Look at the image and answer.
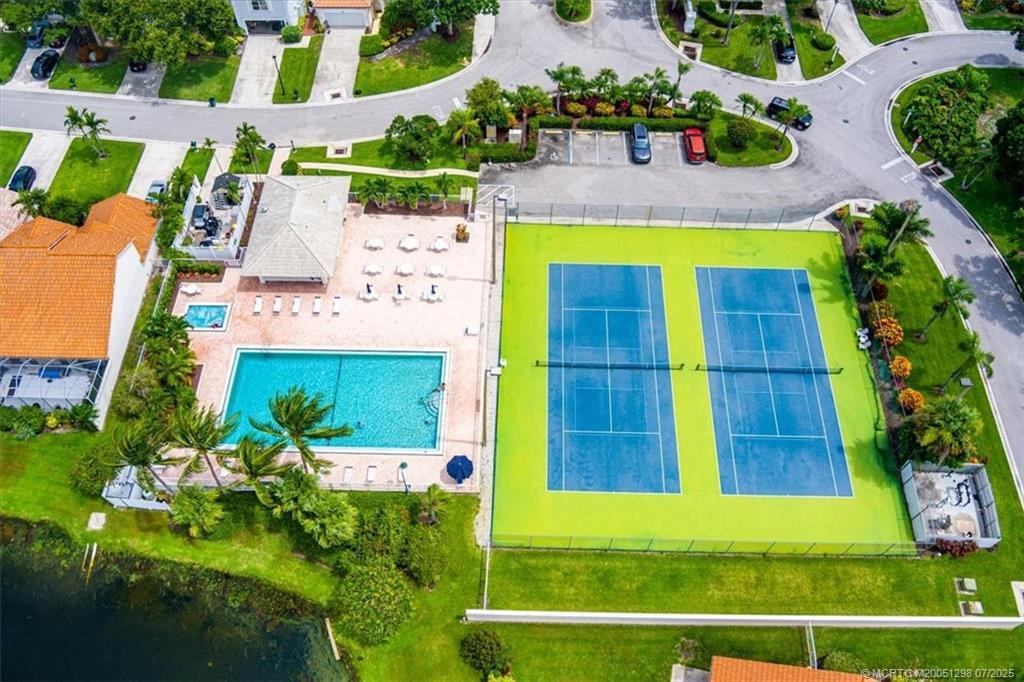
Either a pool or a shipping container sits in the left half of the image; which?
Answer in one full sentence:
It is a pool that can be seen in the left half of the image.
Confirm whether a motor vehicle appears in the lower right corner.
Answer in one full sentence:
No, no motor vehicle appears in the lower right corner.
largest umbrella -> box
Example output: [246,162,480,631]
[447,455,474,481]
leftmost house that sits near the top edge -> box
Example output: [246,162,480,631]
[233,0,316,35]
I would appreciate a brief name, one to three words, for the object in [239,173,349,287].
building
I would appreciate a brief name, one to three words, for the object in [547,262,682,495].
tennis court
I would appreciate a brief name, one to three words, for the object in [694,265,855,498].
tennis court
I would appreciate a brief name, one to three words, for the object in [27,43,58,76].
car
